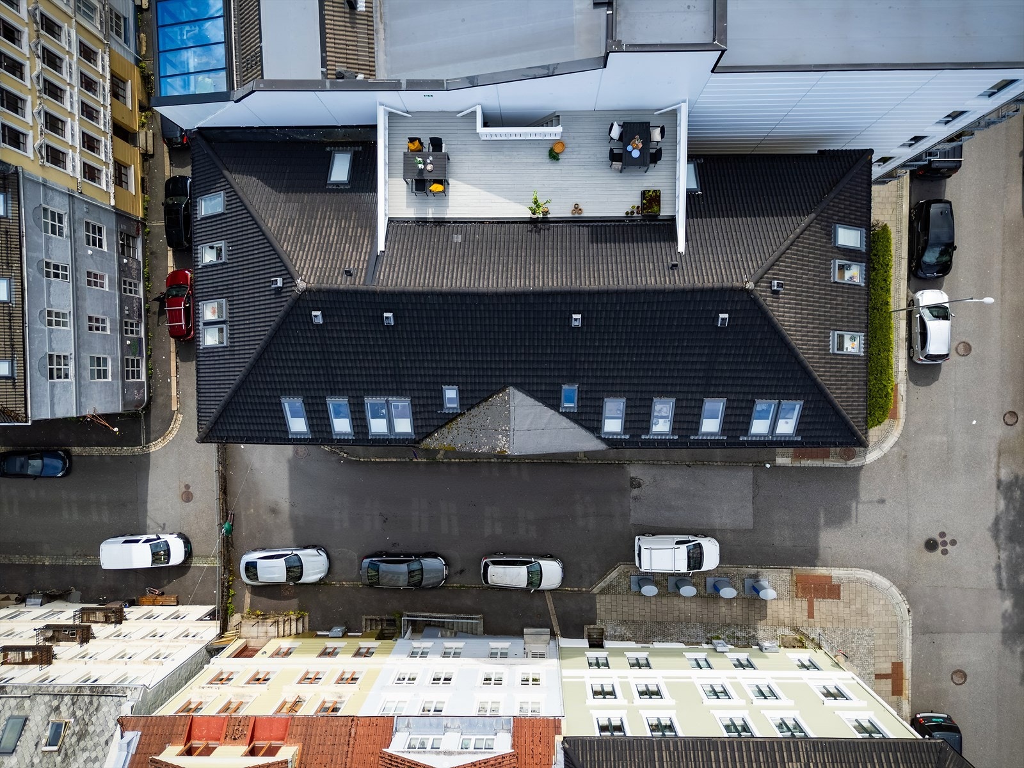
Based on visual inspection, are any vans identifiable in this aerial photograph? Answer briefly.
Yes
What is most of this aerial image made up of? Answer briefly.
buildings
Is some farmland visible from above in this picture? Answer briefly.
No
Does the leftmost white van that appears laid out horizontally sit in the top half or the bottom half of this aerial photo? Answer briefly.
bottom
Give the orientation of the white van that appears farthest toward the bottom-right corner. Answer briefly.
from side to side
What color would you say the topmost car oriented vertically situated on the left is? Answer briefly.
black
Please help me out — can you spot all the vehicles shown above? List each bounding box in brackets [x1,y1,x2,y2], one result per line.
[146,266,193,343]
[481,552,566,595]
[908,196,959,283]
[239,544,331,588]
[634,533,722,578]
[0,445,74,485]
[360,550,450,593]
[156,108,191,156]
[156,172,192,253]
[912,132,973,194]
[913,708,960,768]
[907,288,955,366]
[93,531,192,575]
